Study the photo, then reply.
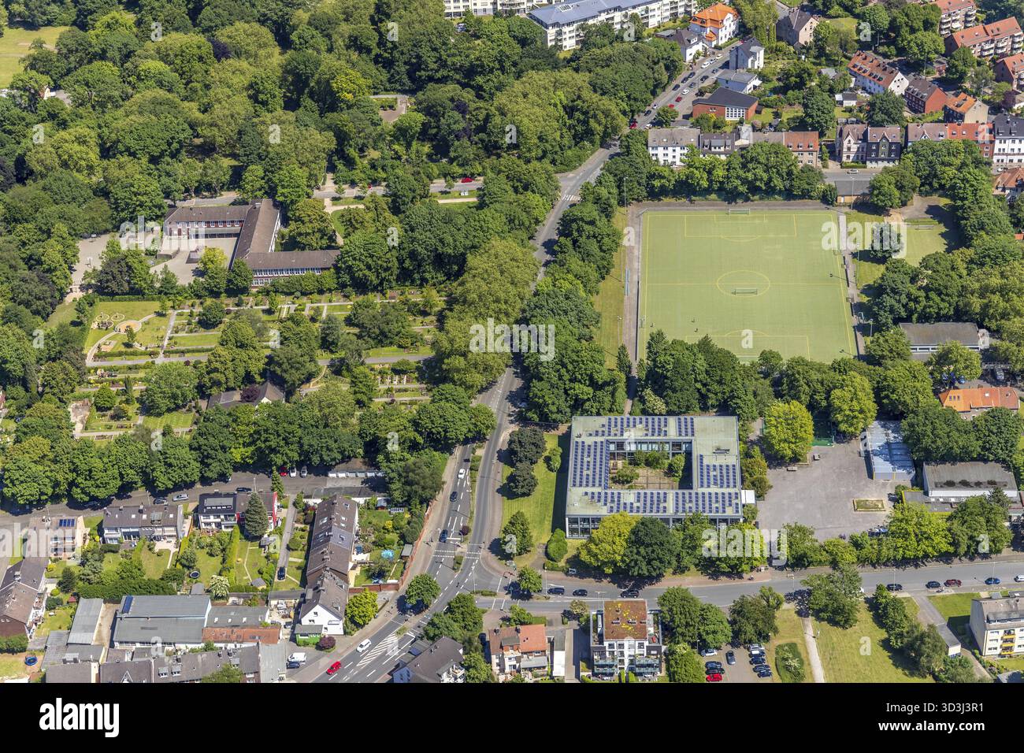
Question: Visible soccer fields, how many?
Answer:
1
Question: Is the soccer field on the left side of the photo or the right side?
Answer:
right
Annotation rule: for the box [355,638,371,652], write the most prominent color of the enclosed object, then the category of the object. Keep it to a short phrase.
white vehicle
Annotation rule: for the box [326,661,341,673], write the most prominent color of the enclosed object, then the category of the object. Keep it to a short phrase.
red vehicle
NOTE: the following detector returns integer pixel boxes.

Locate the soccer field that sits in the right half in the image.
[633,209,864,370]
